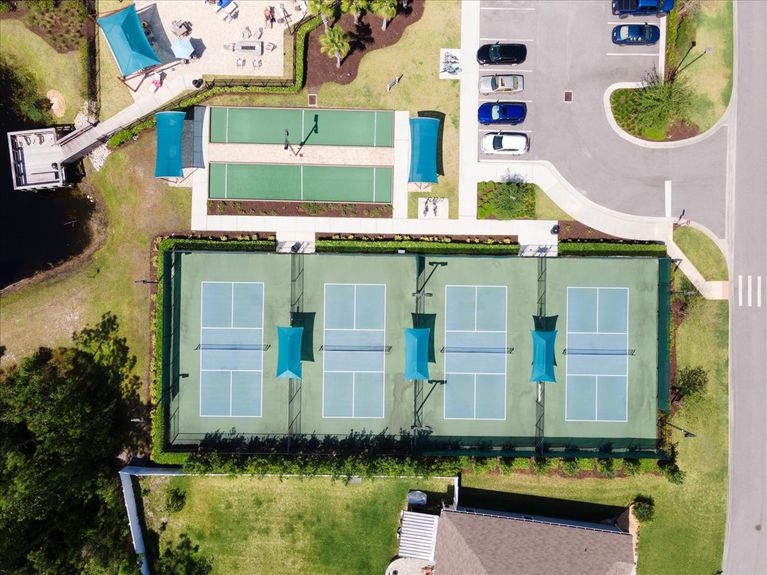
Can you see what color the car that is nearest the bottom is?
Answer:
white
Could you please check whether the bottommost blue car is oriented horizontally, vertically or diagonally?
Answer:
horizontally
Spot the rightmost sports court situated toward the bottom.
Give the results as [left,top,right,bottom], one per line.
[536,258,658,451]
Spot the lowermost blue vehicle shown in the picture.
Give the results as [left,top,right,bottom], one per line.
[477,100,527,124]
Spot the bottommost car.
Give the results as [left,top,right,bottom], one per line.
[480,131,529,155]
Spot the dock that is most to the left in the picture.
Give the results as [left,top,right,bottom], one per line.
[6,127,70,192]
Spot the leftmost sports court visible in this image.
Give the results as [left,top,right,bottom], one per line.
[169,253,294,446]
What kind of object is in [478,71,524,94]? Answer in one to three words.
car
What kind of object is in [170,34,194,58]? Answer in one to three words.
umbrella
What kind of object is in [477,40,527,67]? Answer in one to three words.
car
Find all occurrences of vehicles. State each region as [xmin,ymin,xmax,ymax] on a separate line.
[477,100,527,124]
[610,22,658,47]
[477,40,527,67]
[480,131,529,155]
[478,71,524,94]
[614,0,676,20]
